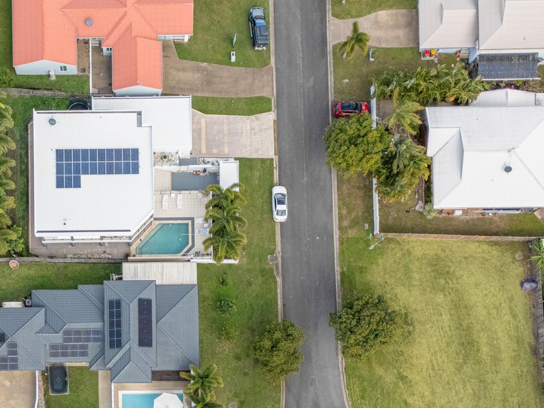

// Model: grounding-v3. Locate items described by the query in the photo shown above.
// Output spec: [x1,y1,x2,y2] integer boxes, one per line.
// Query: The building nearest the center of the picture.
[219,161,239,192]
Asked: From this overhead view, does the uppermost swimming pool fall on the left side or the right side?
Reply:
left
